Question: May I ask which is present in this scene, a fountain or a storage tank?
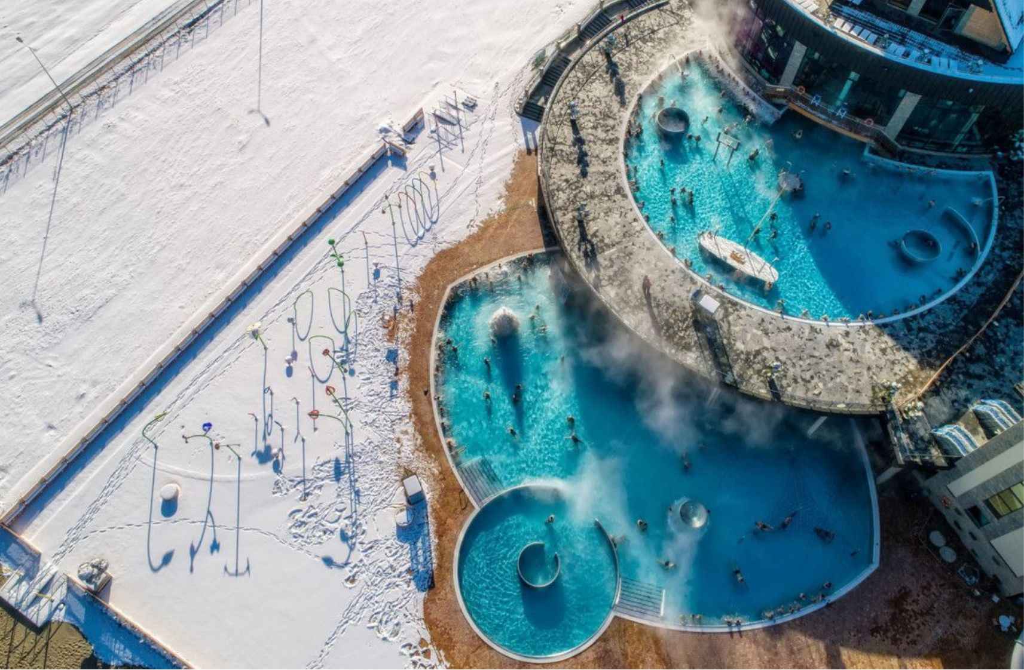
fountain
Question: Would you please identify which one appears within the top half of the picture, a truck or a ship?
ship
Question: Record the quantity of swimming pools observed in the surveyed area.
2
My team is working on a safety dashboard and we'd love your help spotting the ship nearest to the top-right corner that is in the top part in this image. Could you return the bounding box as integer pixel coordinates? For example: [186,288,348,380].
[699,166,801,291]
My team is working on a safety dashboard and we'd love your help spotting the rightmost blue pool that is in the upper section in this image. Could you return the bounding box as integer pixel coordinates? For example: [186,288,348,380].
[626,55,992,322]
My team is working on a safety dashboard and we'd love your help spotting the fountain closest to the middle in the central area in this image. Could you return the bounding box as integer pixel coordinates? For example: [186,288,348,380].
[485,311,524,355]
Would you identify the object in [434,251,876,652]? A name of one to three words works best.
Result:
swimming pool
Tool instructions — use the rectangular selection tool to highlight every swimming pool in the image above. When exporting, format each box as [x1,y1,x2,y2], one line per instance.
[626,55,992,322]
[434,251,876,652]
